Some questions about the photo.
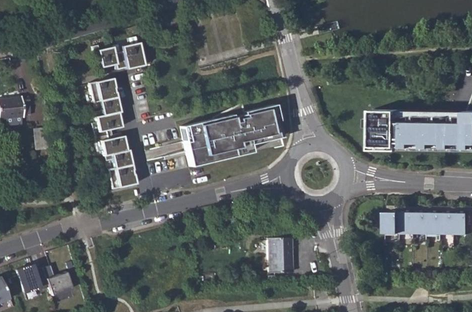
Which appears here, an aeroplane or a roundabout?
roundabout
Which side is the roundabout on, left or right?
right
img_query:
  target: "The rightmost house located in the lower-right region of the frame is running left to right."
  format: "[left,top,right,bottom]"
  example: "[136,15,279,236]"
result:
[404,213,466,241]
